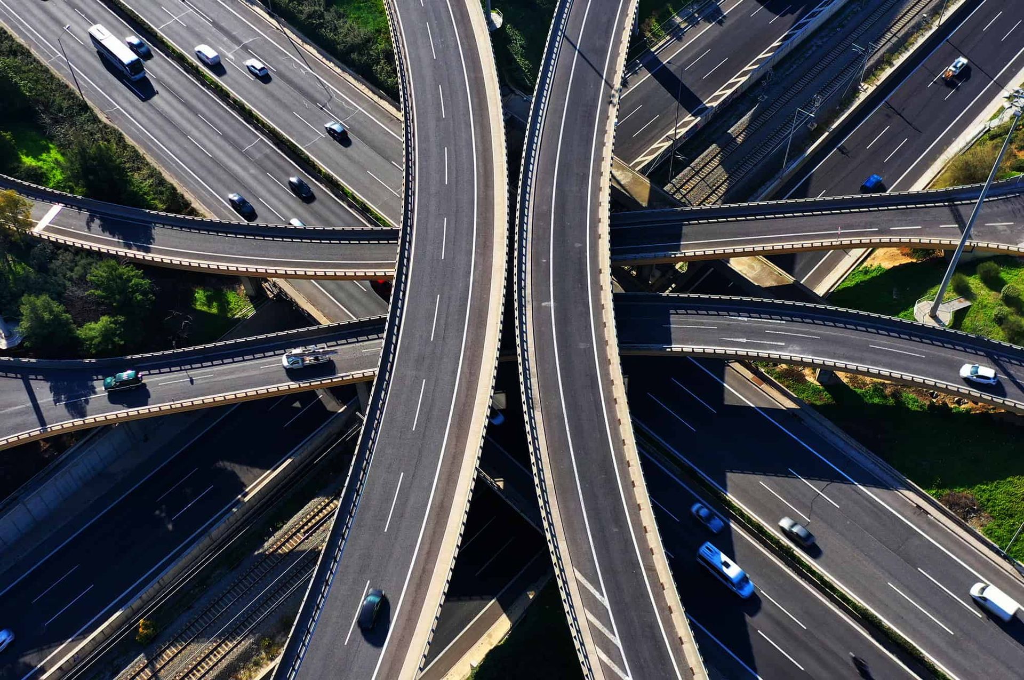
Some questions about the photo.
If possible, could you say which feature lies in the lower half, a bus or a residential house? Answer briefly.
bus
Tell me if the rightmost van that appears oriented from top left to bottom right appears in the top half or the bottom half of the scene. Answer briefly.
bottom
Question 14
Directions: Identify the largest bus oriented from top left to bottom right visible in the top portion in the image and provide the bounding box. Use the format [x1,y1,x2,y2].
[88,28,147,83]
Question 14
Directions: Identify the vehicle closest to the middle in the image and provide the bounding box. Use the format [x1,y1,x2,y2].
[489,402,510,429]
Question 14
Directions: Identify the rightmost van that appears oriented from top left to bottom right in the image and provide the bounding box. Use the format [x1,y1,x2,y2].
[965,581,1024,630]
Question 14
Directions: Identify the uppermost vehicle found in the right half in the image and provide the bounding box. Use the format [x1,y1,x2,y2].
[941,61,967,82]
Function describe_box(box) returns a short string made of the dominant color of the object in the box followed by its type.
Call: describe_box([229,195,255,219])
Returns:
black car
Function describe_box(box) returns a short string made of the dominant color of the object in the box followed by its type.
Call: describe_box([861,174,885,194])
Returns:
blue car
